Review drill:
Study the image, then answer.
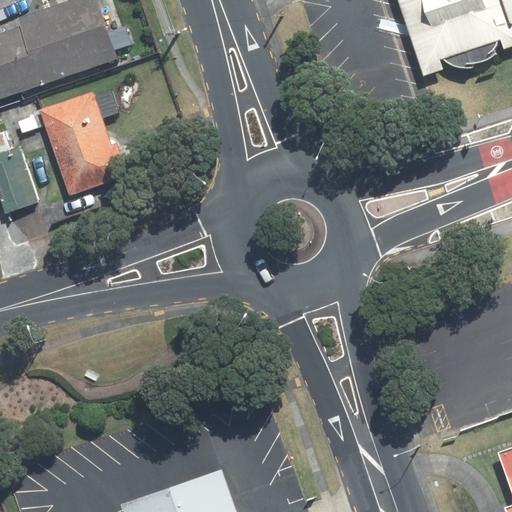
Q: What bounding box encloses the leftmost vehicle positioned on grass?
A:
[32,156,49,185]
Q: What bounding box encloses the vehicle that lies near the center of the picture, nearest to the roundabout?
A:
[256,258,274,284]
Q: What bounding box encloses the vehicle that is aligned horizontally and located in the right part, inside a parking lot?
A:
[376,18,406,34]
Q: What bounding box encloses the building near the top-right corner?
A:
[398,0,512,76]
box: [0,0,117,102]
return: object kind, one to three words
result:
house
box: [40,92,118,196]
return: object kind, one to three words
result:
house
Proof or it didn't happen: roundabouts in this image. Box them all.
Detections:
[266,198,326,265]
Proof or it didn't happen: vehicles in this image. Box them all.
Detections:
[32,156,49,185]
[256,258,274,284]
[376,18,406,34]
[63,193,96,213]
[0,0,30,21]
